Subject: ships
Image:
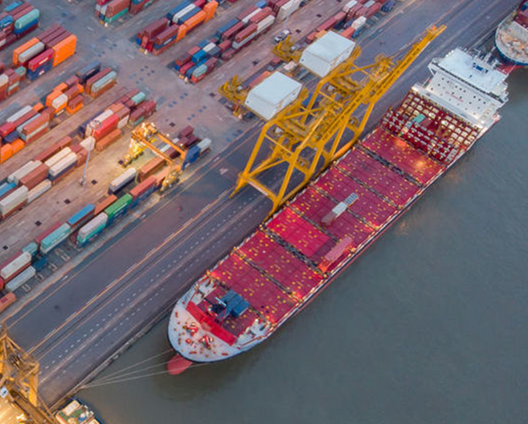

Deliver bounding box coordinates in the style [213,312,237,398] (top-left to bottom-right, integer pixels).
[160,45,520,379]
[52,400,100,424]
[491,7,528,79]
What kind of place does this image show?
port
